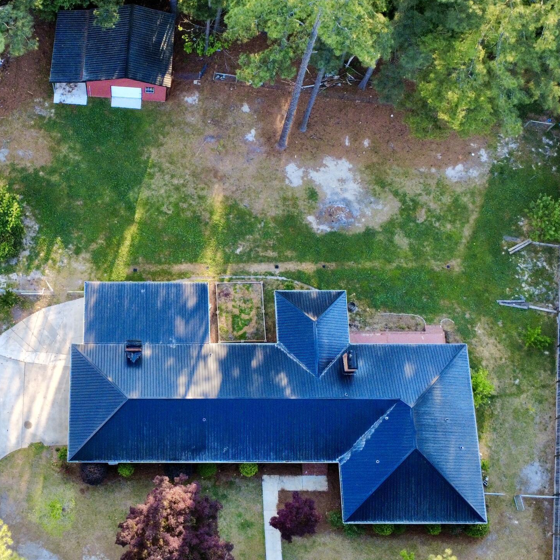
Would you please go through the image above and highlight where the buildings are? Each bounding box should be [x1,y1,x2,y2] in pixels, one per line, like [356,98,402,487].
[67,281,489,525]
[49,3,177,101]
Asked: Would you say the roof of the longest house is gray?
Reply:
No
